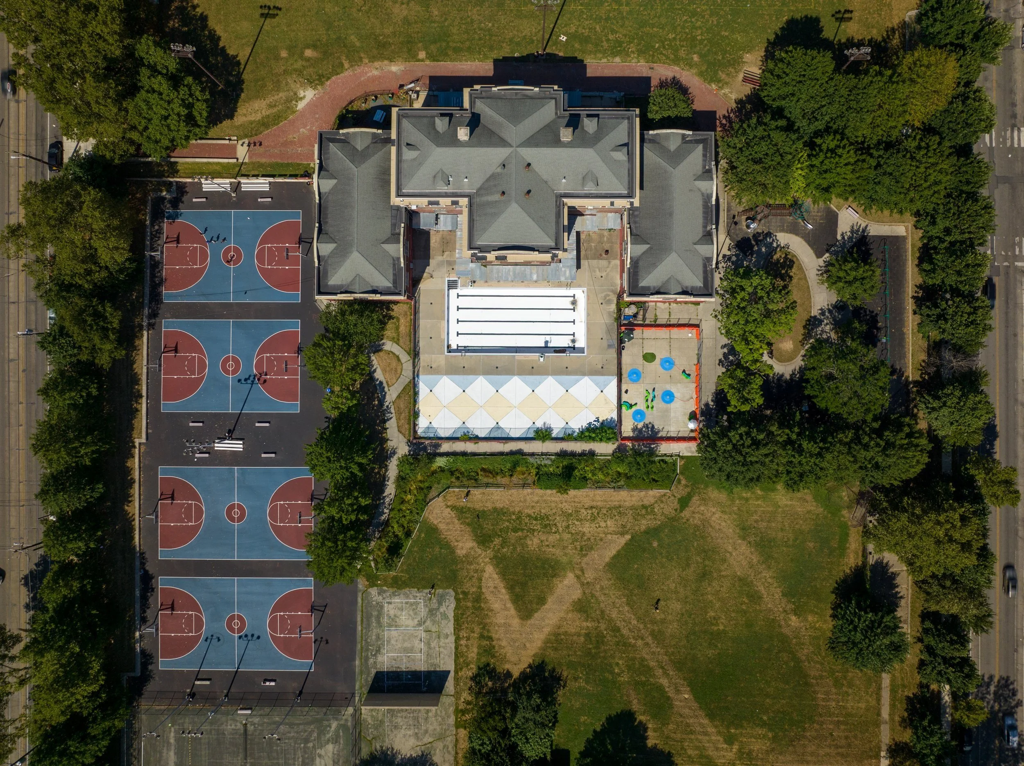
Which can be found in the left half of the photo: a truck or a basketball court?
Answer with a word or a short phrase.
basketball court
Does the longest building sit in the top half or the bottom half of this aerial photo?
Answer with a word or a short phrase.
top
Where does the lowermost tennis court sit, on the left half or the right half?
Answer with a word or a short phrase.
left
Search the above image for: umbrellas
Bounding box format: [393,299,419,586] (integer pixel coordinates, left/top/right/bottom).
[620,331,633,344]
[687,420,697,429]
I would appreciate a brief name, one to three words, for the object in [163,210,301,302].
basketball court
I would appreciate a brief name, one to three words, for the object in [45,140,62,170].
car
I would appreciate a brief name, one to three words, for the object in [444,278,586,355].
swimming pool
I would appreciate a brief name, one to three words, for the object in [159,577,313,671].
basketball court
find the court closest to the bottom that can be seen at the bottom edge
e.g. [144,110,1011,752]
[142,707,356,766]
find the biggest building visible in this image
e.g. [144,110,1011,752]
[313,82,718,304]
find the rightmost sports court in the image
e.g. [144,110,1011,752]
[358,579,455,766]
